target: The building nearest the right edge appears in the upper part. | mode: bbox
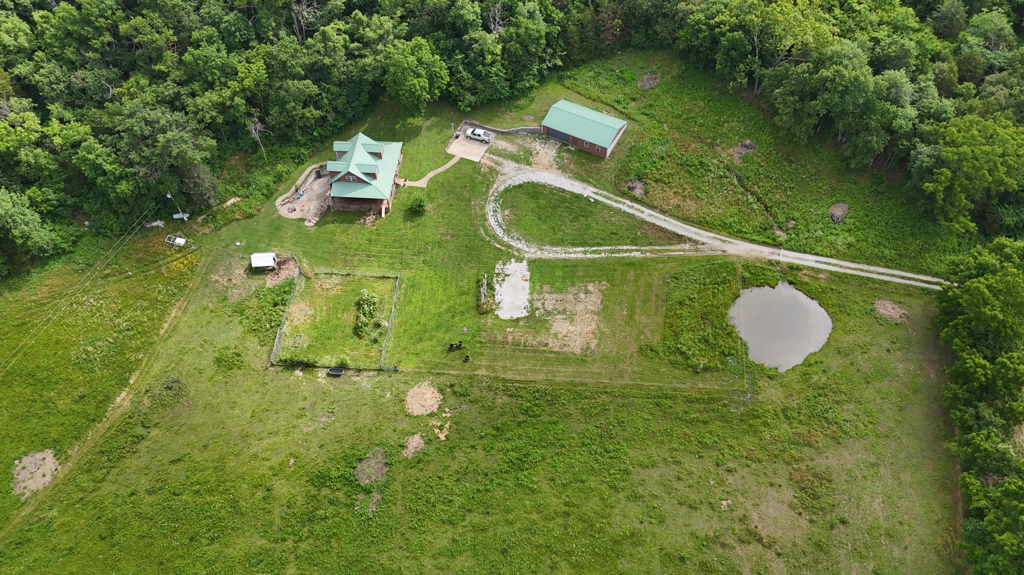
[541,95,627,158]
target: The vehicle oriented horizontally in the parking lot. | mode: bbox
[463,130,492,145]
